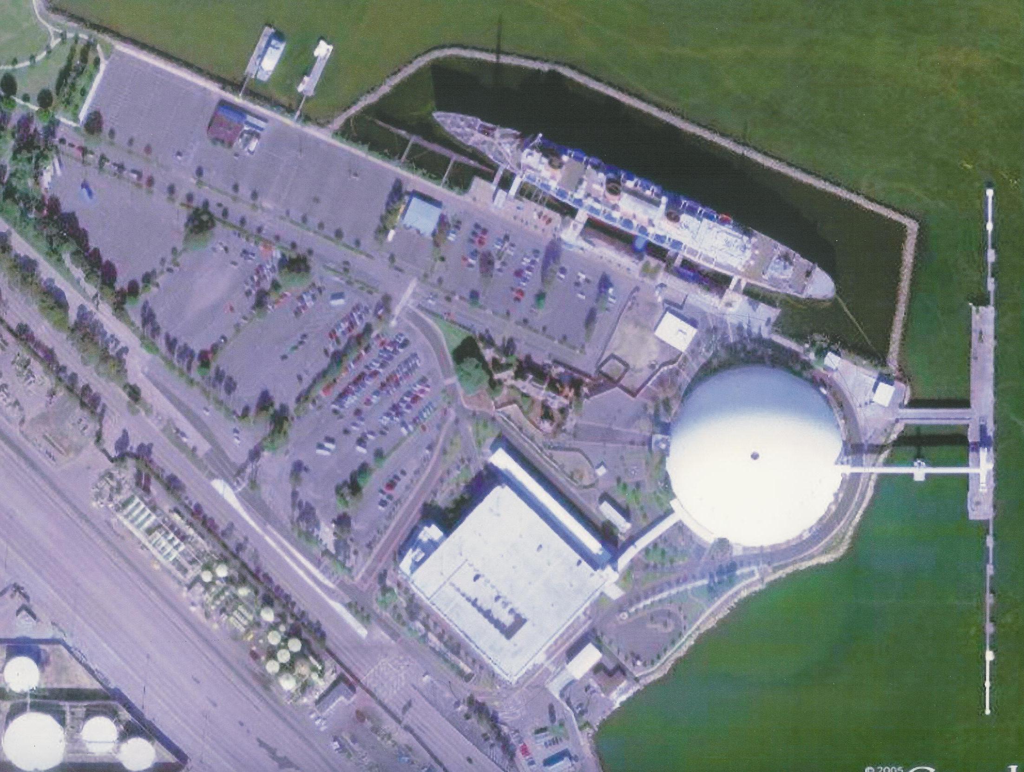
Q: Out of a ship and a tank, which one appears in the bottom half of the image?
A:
tank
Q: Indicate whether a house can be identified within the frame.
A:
Yes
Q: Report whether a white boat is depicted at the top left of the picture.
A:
Yes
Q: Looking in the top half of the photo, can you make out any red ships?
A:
No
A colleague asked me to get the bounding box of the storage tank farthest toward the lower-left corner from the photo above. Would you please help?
[2,712,65,772]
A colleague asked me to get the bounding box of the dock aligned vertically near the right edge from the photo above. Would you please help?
[968,307,994,519]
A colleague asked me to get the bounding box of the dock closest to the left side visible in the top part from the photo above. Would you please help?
[243,27,275,90]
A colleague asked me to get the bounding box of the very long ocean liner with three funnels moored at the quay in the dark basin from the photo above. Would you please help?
[432,112,836,298]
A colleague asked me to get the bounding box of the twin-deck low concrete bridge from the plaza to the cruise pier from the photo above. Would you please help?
[899,408,972,424]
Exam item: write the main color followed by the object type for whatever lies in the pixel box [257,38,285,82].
white boat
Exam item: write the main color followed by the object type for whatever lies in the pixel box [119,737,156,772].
white storage tank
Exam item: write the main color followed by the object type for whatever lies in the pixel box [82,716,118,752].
white storage tank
